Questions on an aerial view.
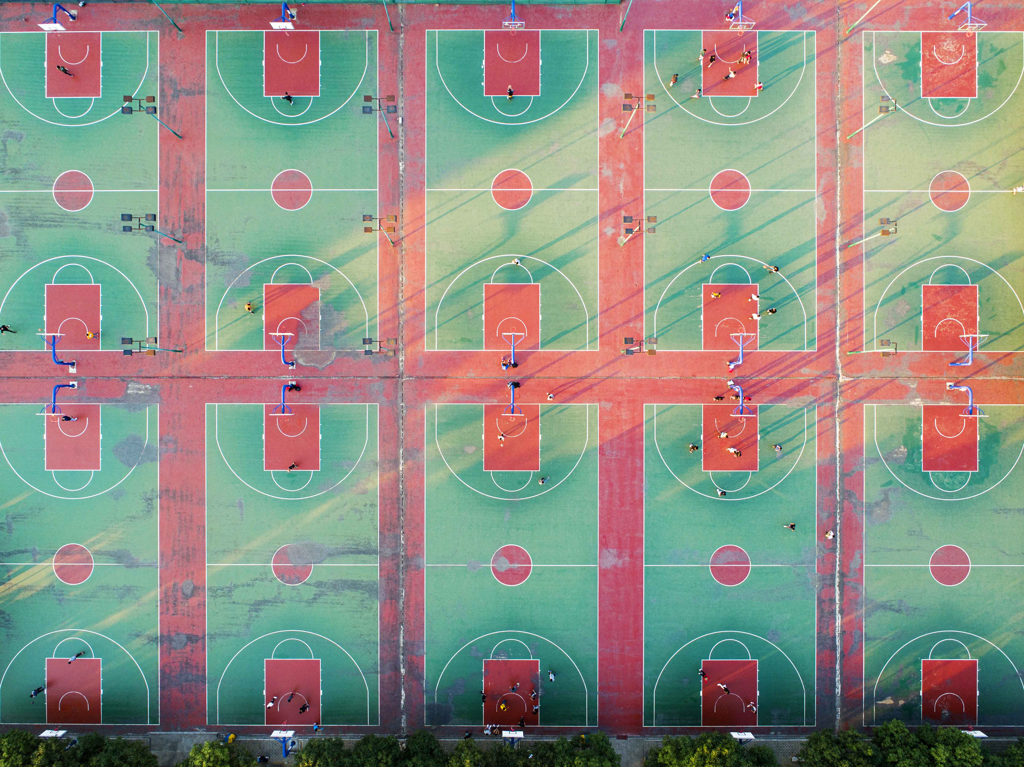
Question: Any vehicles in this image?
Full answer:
No, no vehicle is visible in the scene.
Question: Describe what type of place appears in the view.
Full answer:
It's a sports ground.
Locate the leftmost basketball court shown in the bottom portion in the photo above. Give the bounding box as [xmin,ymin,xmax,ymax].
[0,404,159,725]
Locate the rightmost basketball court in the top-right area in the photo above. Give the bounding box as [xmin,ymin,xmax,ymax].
[864,30,1024,351]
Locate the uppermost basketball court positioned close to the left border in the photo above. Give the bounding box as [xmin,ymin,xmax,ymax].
[0,30,159,351]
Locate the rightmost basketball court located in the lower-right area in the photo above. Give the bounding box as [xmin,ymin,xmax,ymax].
[864,404,1024,725]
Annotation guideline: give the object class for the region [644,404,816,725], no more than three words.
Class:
basketball court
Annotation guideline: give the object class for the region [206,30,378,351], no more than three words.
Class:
basketball court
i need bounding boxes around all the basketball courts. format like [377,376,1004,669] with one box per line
[426,404,597,725]
[206,30,378,351]
[644,30,816,351]
[864,30,1024,351]
[644,404,816,725]
[864,404,1024,725]
[0,30,159,351]
[0,404,159,725]
[206,404,378,725]
[426,30,598,351]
